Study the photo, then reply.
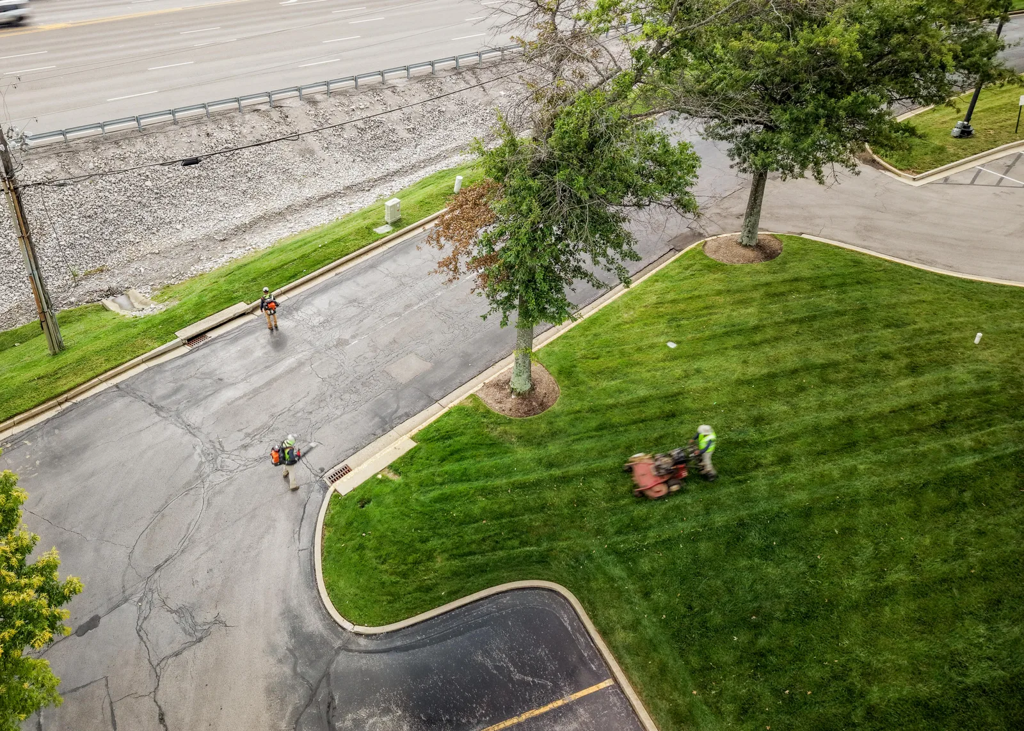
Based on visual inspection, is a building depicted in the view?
No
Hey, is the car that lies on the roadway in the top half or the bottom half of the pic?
top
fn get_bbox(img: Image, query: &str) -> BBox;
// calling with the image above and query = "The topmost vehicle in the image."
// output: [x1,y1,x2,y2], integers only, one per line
[0,3,25,27]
